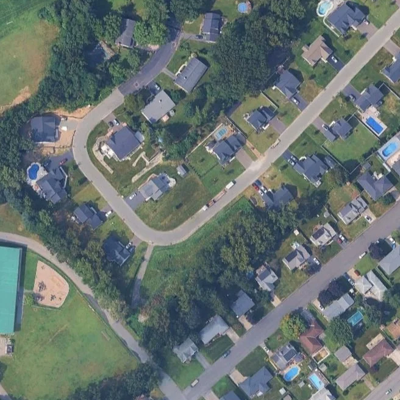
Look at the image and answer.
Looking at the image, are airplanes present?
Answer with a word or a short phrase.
No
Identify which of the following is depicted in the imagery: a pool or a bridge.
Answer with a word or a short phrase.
pool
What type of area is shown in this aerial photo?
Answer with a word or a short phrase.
residential area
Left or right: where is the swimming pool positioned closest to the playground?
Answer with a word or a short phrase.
left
